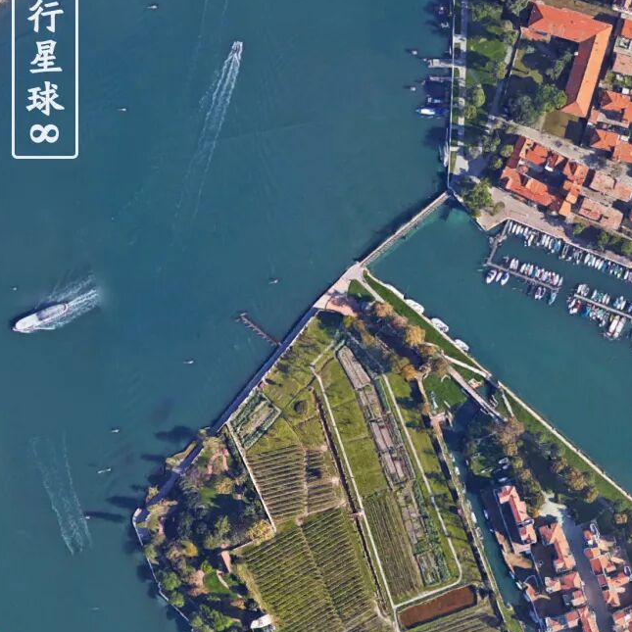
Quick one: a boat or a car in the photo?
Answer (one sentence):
Of the two, only a boat appears.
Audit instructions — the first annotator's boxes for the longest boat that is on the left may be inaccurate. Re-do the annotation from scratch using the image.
[12,301,69,329]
